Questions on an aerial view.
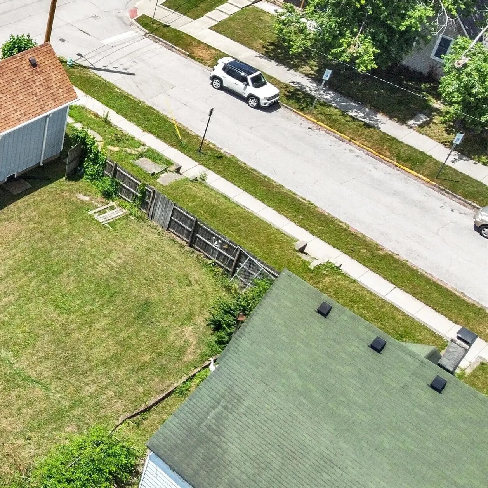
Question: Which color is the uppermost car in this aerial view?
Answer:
white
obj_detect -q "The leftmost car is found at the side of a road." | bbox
[209,56,284,108]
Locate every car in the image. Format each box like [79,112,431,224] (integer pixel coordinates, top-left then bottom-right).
[209,56,284,108]
[472,206,488,239]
